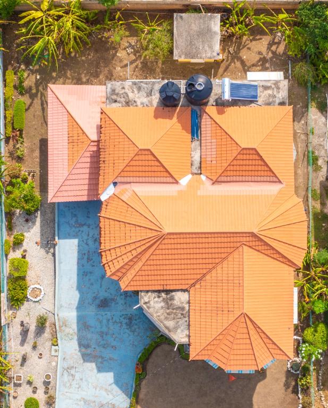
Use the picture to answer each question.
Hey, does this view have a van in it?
No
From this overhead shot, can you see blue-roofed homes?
No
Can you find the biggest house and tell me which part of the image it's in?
center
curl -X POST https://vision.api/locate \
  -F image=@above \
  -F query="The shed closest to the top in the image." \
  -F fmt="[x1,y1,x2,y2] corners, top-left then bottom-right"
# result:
[174,12,219,65]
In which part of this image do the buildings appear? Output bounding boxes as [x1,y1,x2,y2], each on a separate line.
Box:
[174,12,219,65]
[48,81,308,373]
